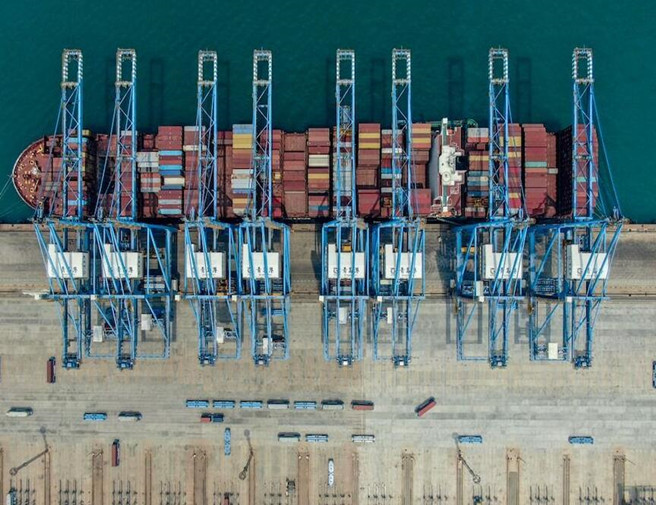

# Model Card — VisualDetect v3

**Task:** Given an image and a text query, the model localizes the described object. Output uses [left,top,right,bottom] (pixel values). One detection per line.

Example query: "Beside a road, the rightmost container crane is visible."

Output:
[525,45,634,367]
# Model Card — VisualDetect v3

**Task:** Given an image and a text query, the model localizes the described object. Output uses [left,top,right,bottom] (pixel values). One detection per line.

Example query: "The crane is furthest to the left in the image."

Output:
[10,42,127,368]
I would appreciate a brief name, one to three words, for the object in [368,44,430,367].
container crane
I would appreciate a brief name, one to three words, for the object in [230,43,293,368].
container crane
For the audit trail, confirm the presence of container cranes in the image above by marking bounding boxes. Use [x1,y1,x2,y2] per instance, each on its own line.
[172,43,247,368]
[450,44,539,367]
[318,44,372,368]
[85,42,177,368]
[230,43,293,368]
[10,42,127,368]
[368,44,430,367]
[525,45,634,367]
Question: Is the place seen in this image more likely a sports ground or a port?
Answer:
port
